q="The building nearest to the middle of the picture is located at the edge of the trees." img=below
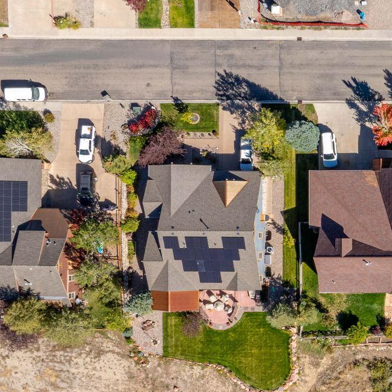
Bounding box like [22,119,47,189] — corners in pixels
[139,165,266,314]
